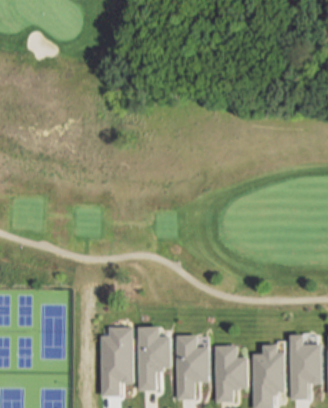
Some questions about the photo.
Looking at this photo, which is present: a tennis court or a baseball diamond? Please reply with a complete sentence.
I can see a tennis court in this picture.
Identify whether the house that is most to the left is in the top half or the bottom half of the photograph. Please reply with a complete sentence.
Seen from above, the house that is most to the left lies in the bottom half of the view.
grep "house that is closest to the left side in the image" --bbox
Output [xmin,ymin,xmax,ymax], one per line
[101,327,136,396]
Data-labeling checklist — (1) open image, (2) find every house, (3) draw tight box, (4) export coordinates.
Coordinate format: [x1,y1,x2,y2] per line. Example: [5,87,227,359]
[138,326,173,390]
[101,327,136,396]
[215,345,250,402]
[253,344,286,408]
[290,334,324,398]
[176,334,212,400]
